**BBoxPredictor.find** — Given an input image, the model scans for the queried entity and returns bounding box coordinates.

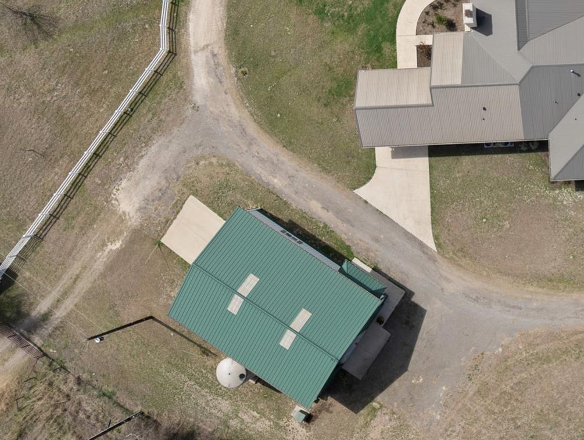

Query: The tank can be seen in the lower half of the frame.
[217,356,253,387]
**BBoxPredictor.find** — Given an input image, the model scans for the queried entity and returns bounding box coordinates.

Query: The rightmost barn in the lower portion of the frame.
[166,204,387,411]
